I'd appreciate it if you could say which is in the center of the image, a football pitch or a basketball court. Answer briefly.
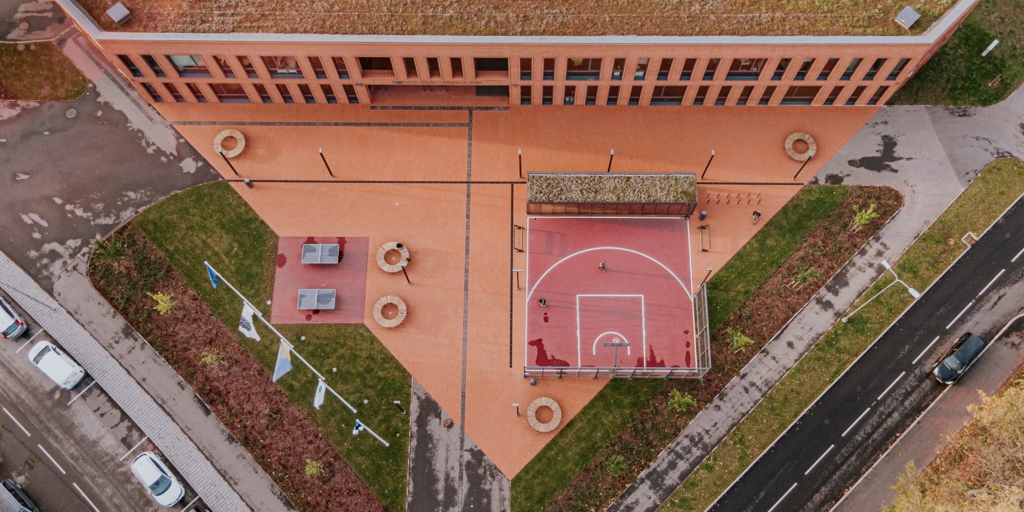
basketball court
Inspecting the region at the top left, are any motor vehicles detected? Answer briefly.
No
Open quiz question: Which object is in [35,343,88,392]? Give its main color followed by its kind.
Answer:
white vehicle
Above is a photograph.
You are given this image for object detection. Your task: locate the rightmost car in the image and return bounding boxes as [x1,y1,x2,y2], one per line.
[930,329,987,384]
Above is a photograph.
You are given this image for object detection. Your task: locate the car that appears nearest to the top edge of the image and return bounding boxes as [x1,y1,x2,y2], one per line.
[0,292,25,337]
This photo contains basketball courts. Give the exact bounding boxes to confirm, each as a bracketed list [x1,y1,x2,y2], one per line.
[525,216,700,377]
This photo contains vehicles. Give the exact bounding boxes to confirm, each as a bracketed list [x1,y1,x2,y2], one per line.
[133,452,186,506]
[35,343,88,392]
[0,478,47,512]
[0,292,25,337]
[930,329,987,384]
